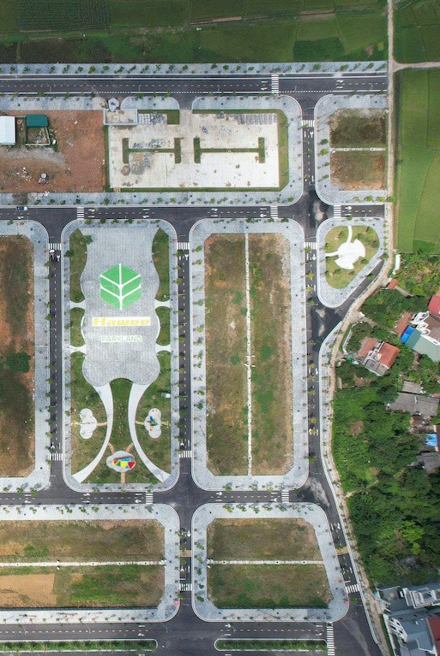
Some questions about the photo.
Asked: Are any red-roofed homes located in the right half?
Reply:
Yes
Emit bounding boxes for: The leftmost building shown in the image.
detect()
[0,116,16,145]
